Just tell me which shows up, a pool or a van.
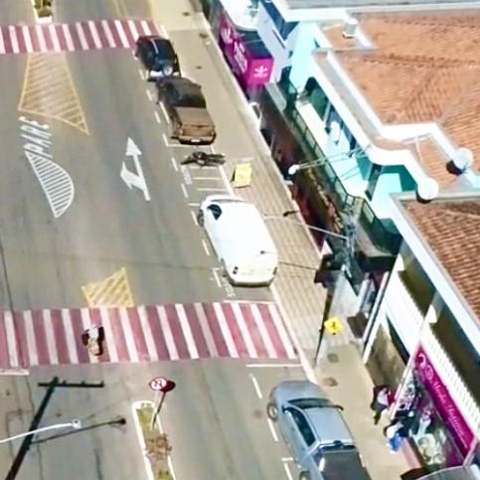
van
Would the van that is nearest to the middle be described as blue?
No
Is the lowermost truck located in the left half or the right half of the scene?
right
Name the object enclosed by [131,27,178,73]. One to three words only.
car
